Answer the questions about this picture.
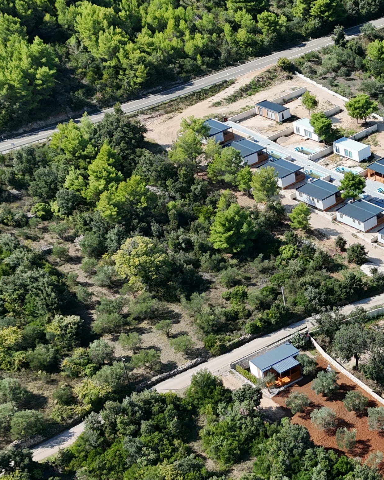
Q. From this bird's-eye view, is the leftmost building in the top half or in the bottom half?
top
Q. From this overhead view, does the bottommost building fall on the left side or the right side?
right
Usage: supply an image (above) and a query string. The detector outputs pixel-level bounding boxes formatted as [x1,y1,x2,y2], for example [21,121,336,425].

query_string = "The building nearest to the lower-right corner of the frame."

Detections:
[249,341,302,386]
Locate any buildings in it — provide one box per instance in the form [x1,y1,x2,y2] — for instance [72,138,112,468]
[232,139,267,164]
[333,137,370,161]
[293,117,329,141]
[249,341,302,386]
[367,157,384,183]
[196,119,233,145]
[255,99,290,123]
[297,179,344,211]
[337,199,384,233]
[258,159,304,189]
